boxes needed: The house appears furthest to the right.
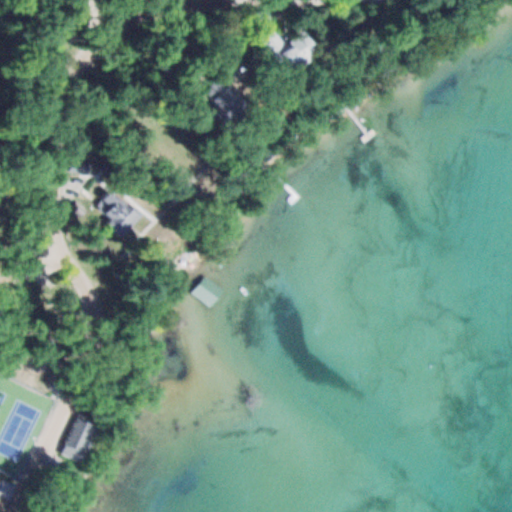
[286,34,315,63]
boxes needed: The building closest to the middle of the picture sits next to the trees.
[191,277,223,308]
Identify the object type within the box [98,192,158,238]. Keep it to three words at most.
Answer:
house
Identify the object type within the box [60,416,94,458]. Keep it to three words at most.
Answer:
house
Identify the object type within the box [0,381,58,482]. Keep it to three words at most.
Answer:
tennis court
